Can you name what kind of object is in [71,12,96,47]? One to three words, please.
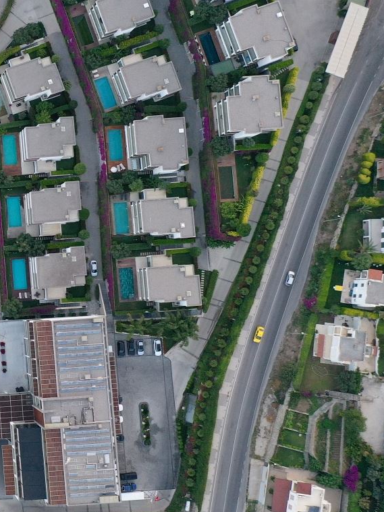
swimming pool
